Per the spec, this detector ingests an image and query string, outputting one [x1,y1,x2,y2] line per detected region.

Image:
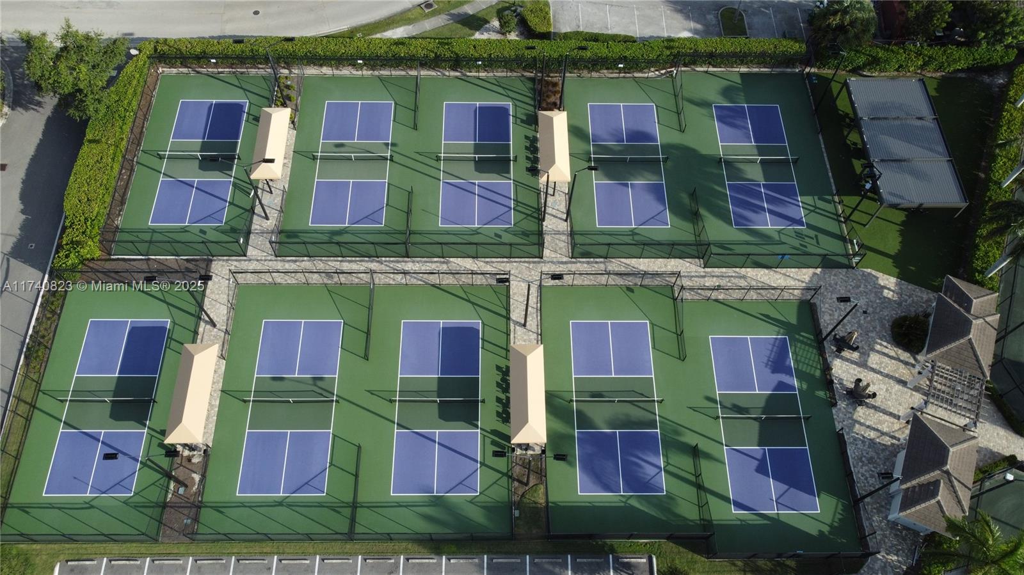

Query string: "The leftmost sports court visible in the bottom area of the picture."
[0,285,208,541]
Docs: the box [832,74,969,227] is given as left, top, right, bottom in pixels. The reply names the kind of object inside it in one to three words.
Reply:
building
